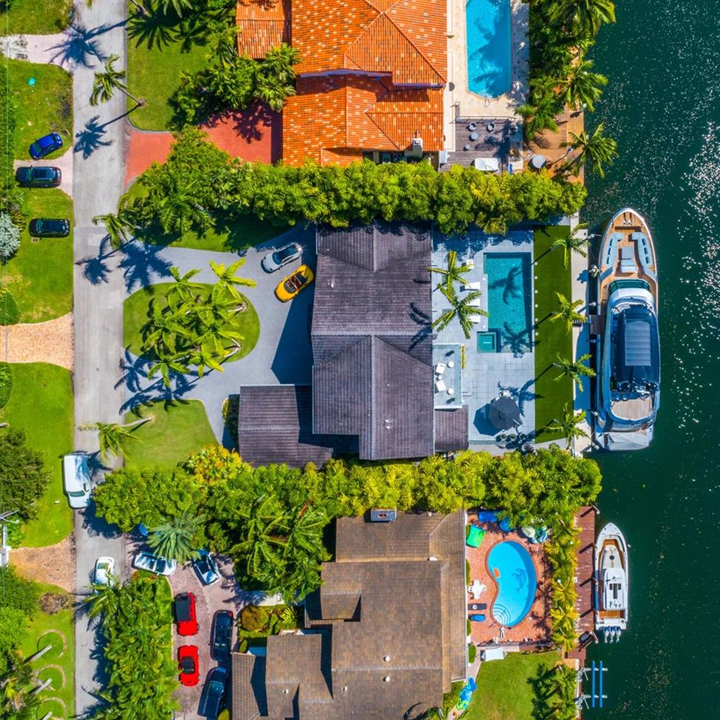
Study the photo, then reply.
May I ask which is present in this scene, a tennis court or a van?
van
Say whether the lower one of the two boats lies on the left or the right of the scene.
right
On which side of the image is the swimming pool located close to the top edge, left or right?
right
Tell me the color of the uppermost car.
blue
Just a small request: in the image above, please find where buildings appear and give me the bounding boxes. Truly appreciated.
[237,0,453,174]
[239,218,468,467]
[232,501,466,720]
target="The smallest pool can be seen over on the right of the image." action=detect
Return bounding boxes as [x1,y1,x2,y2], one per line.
[477,332,497,353]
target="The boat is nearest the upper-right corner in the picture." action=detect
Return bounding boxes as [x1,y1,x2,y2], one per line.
[595,208,661,450]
